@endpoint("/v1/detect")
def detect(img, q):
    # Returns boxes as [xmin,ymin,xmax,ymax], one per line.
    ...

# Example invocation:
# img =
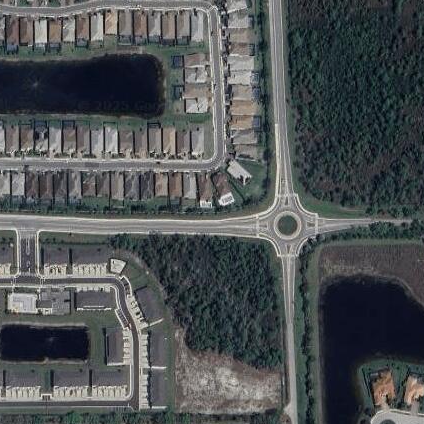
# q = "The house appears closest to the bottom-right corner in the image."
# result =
[404,371,424,405]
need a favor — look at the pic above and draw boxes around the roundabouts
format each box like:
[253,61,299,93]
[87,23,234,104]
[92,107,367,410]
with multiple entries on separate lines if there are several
[232,177,337,277]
